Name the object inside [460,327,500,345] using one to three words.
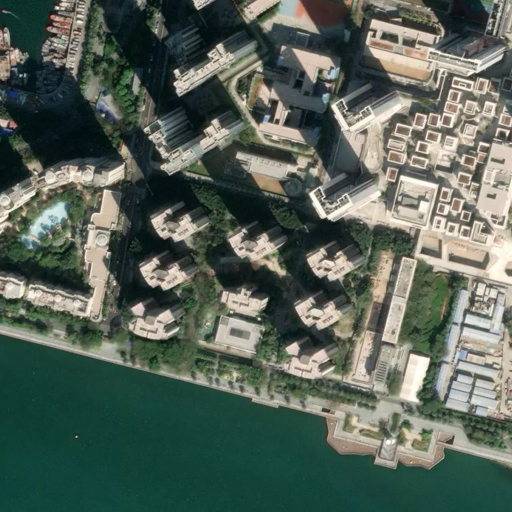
shed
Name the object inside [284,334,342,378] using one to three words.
building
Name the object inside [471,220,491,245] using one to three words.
house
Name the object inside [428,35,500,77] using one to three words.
building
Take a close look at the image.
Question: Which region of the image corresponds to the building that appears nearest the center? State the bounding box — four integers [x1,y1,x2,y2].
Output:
[228,221,286,261]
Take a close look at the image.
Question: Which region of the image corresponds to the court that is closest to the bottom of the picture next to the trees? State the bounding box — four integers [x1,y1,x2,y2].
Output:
[244,171,286,192]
